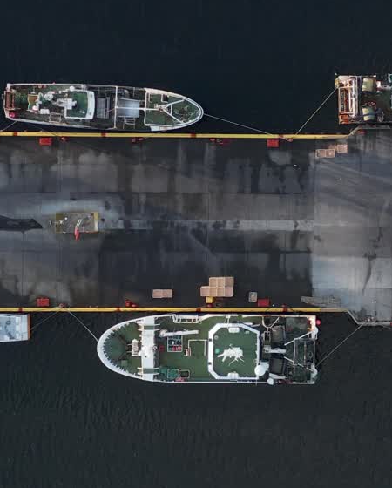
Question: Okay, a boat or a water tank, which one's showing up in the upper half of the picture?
boat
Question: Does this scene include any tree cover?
No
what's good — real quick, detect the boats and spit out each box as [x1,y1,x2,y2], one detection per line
[97,312,318,385]
[4,83,209,131]
[338,73,392,125]
[0,313,35,342]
